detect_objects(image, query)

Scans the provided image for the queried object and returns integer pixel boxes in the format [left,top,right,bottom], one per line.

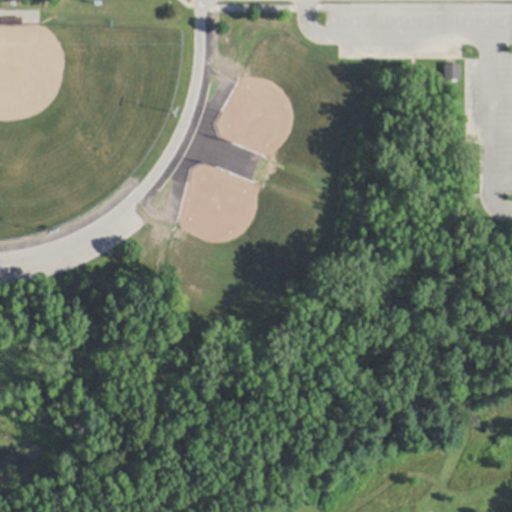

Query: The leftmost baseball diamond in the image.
[0,24,182,242]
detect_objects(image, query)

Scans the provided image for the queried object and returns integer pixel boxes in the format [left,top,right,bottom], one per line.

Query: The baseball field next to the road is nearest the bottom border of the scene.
[179,164,259,242]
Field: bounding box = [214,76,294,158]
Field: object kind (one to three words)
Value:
baseball field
